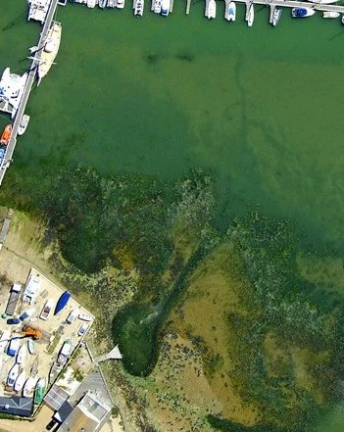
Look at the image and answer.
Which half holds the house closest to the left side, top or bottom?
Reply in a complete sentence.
You can find the house closest to the left side in the bottom half.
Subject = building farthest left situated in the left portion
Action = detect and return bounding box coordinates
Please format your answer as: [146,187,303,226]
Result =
[0,394,36,416]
